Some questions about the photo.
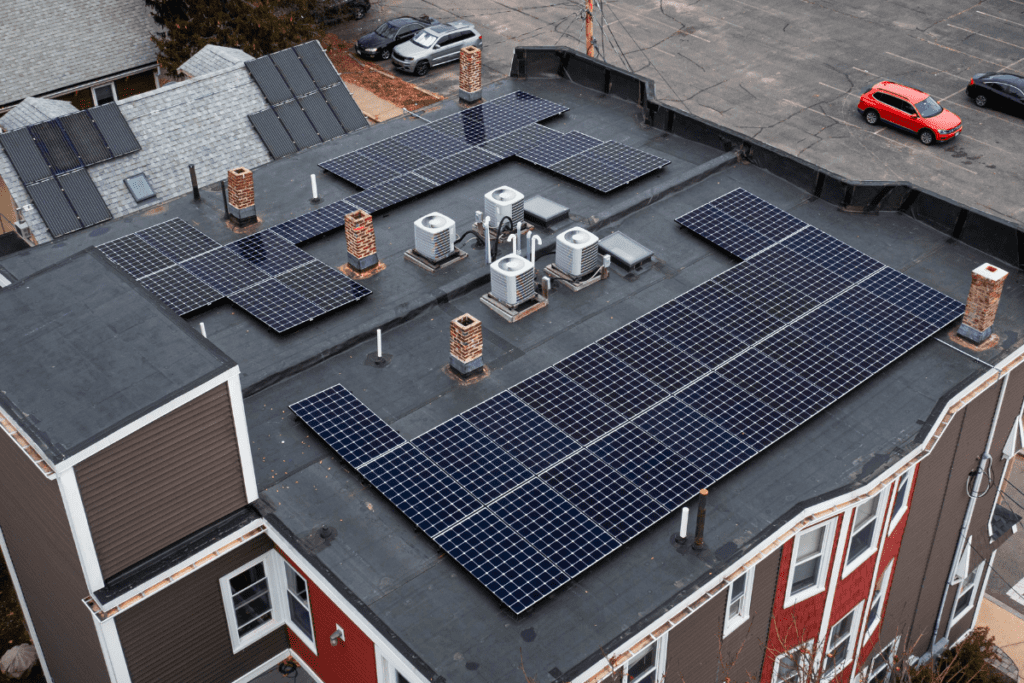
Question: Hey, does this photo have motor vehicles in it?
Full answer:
Yes, this view includes a motor vehicle.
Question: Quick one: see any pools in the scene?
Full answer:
No, no pool is visible in the view.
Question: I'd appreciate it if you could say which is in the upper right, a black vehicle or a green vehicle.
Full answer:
Looking in the upper right, you will find a black vehicle.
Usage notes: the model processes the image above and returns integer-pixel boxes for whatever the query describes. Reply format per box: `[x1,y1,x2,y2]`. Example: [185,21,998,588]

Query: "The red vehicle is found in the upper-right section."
[860,81,967,145]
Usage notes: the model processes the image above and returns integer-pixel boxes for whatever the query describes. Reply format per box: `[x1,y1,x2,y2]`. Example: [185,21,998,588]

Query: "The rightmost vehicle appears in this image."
[966,69,1024,111]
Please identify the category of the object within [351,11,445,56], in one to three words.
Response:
car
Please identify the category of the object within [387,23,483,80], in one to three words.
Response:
car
